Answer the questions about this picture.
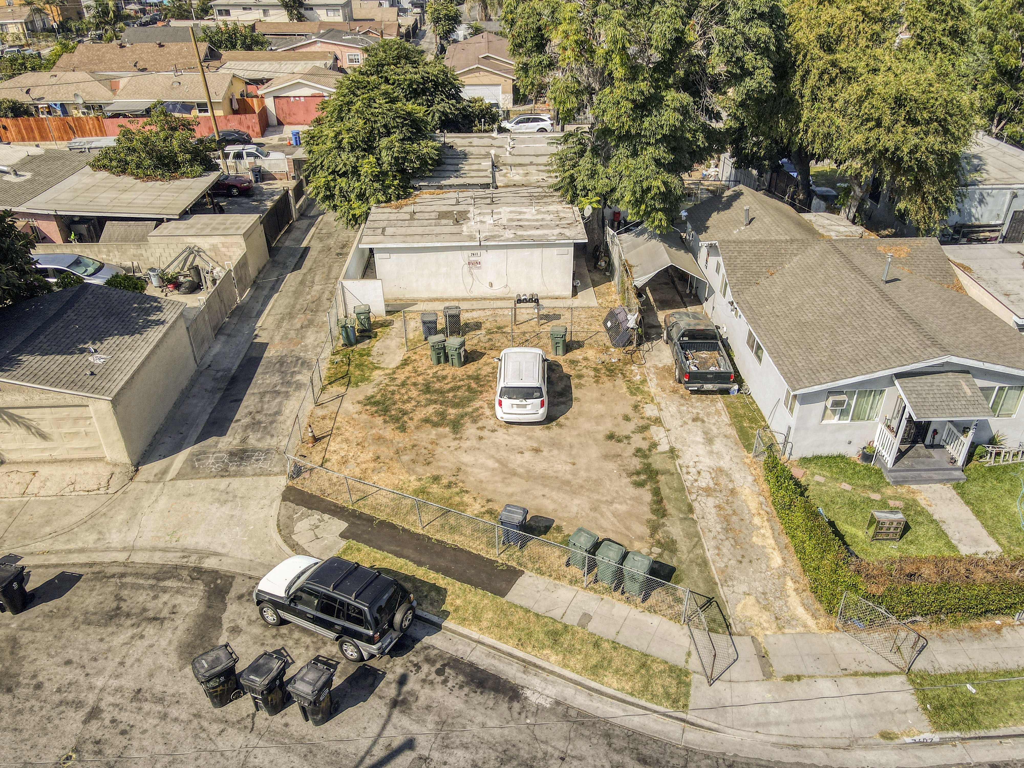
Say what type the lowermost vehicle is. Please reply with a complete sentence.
It looks like the lowermost vehicle is a car.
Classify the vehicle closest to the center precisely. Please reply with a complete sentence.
Specifically, the vehicle closest to the center is an automobile.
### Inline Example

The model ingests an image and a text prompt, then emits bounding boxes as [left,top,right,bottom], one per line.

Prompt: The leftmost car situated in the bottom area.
[249,551,418,670]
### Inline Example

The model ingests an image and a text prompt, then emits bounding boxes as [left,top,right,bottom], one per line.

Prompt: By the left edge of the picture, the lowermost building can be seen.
[0,280,197,468]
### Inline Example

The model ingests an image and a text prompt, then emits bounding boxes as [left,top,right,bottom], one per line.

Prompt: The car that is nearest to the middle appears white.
[488,342,549,423]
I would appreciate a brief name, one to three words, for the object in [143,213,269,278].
shed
